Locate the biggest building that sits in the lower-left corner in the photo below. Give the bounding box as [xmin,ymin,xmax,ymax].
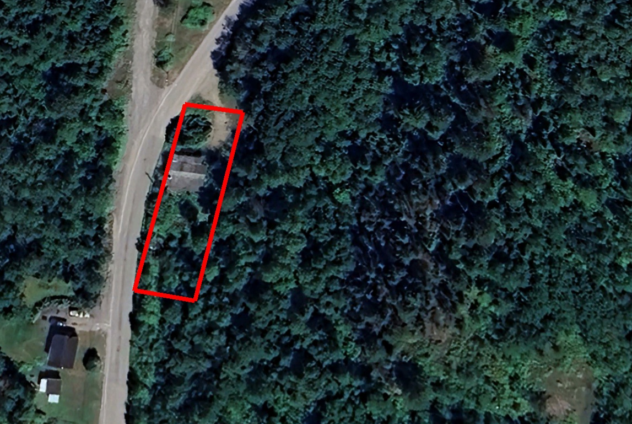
[49,330,78,370]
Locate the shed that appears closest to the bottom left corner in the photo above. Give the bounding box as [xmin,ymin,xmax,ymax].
[39,378,62,402]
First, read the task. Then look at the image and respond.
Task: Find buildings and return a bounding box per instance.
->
[49,330,78,370]
[168,153,207,192]
[39,378,62,402]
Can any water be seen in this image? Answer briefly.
No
